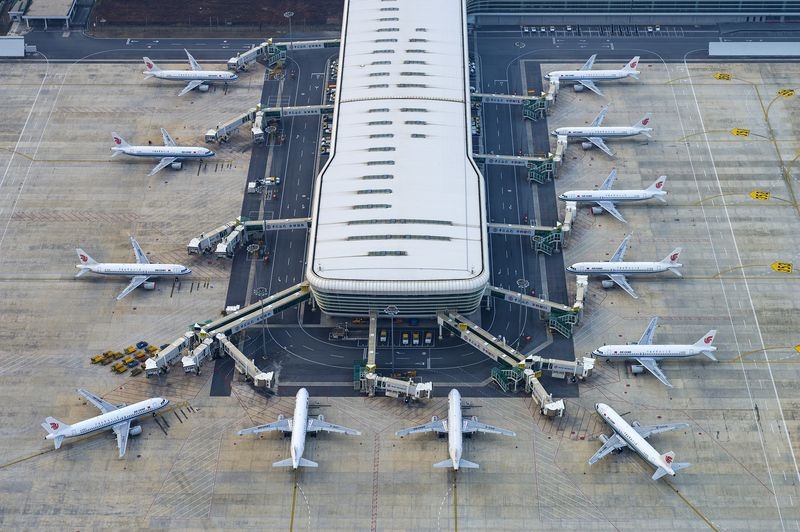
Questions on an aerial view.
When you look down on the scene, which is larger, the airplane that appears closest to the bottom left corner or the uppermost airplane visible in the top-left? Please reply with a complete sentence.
The uppermost airplane visible in the top-left is smaller than the airplane that appears closest to the bottom left corner.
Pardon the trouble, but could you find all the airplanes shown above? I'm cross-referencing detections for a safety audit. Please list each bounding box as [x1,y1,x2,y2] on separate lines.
[593,316,718,388]
[559,168,668,223]
[238,387,357,470]
[589,403,690,478]
[42,388,168,460]
[545,53,641,97]
[110,127,213,177]
[567,236,683,298]
[142,54,238,97]
[395,388,515,471]
[75,237,191,299]
[552,107,654,155]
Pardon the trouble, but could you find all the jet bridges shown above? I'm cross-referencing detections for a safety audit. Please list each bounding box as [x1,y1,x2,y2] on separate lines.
[202,106,261,145]
[216,333,273,393]
[212,227,245,262]
[523,369,565,422]
[545,76,559,117]
[184,222,241,259]
[570,272,588,327]
[366,372,436,405]
[561,202,577,249]
[252,112,267,144]
[141,331,196,378]
[227,43,273,73]
[178,337,215,377]
[531,354,598,385]
[552,134,568,179]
